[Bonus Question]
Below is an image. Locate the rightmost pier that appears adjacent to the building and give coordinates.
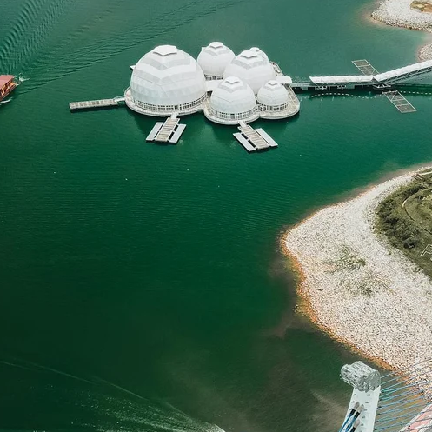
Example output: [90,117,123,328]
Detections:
[233,118,278,153]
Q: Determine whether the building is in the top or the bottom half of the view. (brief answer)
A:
top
